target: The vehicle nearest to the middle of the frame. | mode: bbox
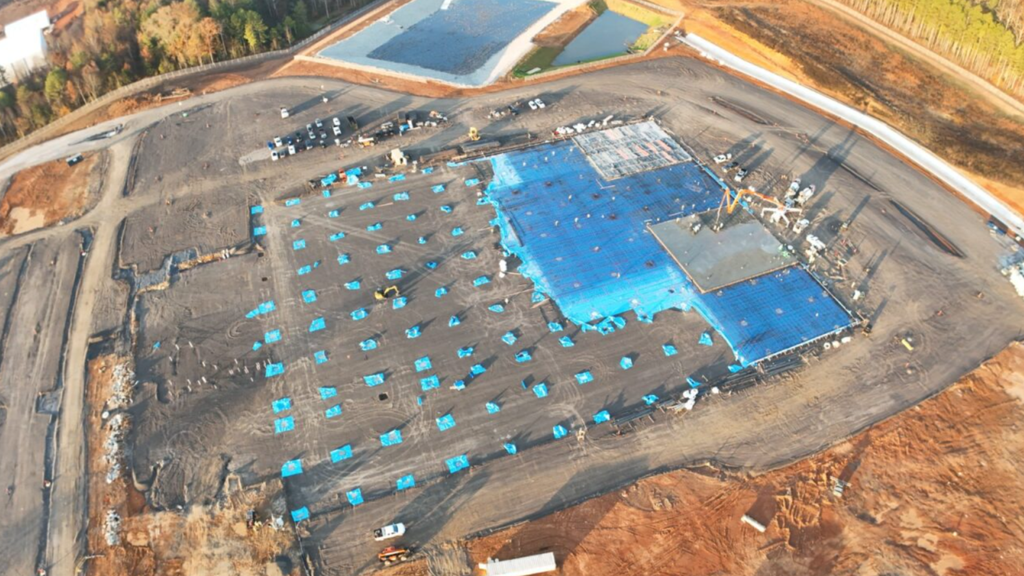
[372,281,400,301]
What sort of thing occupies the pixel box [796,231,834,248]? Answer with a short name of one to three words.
vehicle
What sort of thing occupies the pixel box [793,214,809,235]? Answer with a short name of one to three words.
vehicle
